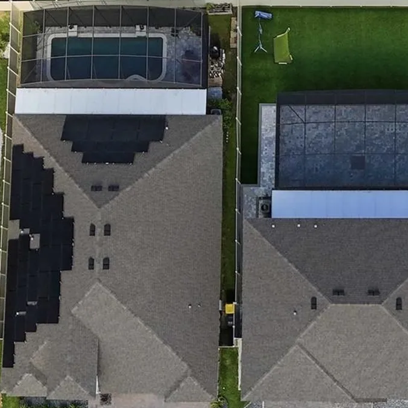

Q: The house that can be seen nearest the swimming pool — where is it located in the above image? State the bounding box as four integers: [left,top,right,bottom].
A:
[1,88,224,402]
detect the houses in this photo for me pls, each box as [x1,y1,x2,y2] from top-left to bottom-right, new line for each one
[241,190,408,403]
[1,88,224,402]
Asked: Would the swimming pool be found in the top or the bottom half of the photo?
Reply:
top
